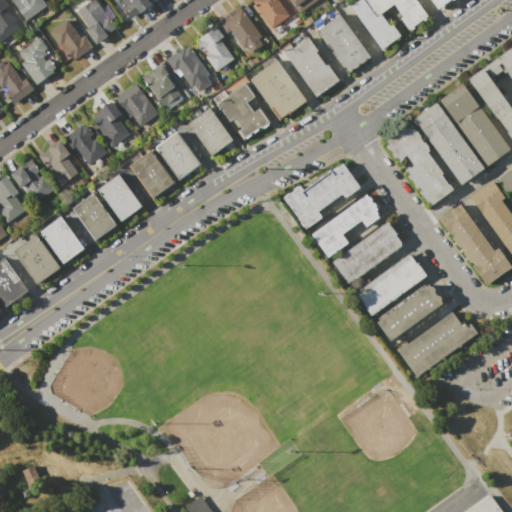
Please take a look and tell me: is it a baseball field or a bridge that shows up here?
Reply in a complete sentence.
Visible in the photo is a baseball field.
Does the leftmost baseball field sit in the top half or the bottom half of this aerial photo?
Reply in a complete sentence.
The bottom half of the photo is where the leftmost baseball field is.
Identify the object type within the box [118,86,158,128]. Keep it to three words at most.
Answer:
house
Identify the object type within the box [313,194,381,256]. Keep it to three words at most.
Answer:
building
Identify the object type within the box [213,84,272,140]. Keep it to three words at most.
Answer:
building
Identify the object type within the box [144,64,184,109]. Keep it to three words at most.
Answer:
house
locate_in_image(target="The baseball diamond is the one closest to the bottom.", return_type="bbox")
[232,476,298,512]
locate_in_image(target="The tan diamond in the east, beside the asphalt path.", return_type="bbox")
[338,378,416,460]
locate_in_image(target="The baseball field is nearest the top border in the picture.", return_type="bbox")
[52,346,122,416]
